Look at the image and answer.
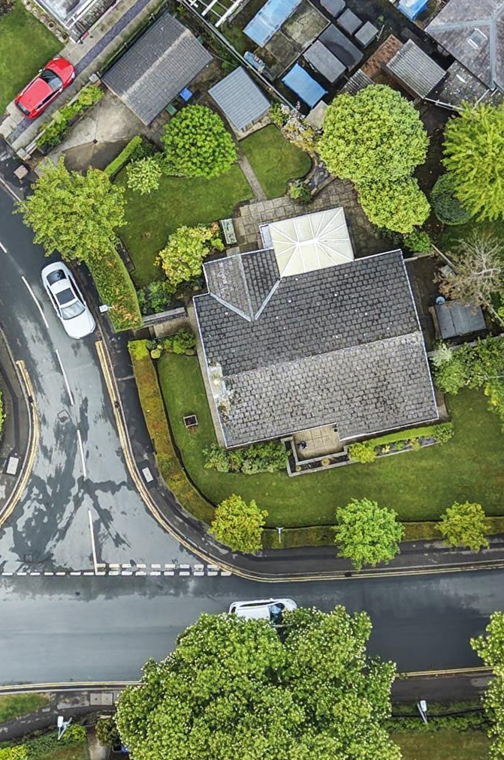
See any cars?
Yes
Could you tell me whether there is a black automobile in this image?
No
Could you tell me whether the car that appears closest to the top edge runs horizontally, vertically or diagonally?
diagonally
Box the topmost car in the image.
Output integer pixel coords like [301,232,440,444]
[14,55,76,119]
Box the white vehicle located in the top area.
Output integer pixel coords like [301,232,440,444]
[44,259,92,341]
